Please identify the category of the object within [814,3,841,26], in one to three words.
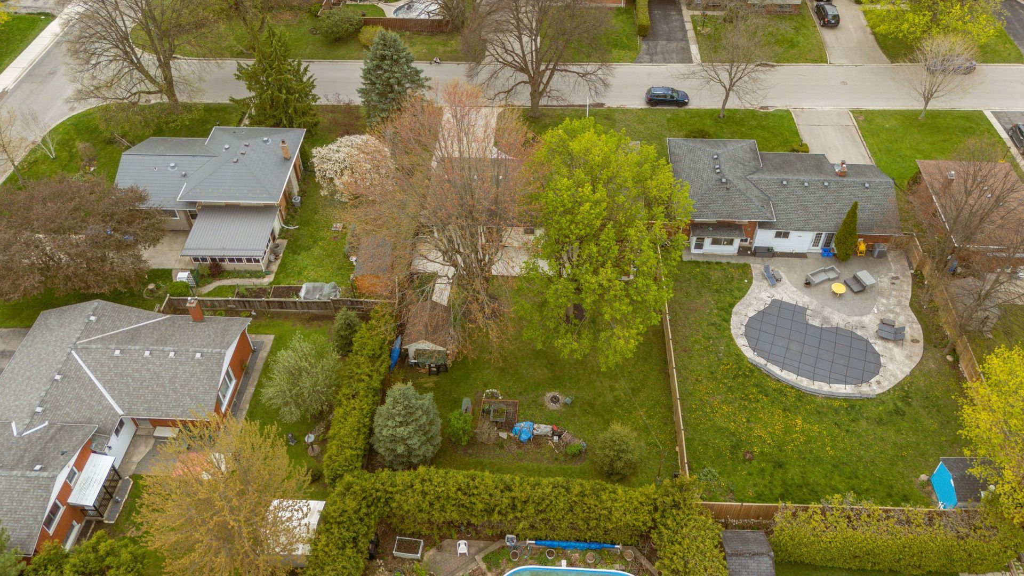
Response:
car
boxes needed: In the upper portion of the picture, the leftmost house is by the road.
[114,126,307,278]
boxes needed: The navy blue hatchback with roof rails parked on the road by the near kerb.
[645,83,690,105]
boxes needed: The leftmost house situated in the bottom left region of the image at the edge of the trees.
[0,299,256,576]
